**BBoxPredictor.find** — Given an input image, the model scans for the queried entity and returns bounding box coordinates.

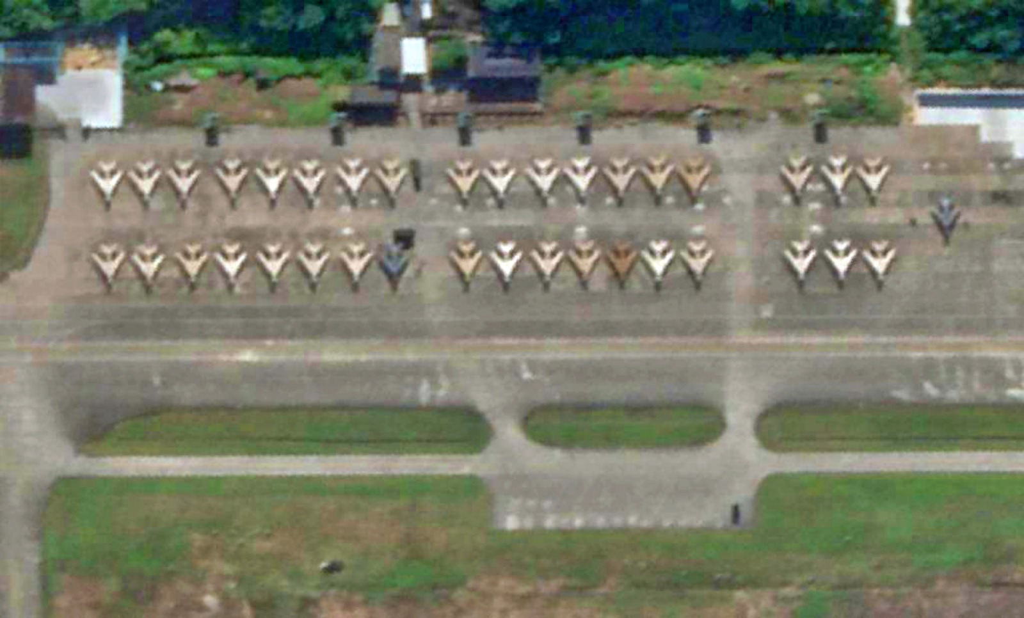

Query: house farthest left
[0,64,32,122]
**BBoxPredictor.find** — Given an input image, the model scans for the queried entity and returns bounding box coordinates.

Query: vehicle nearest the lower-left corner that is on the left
[320,560,344,572]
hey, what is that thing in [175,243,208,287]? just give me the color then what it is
white airplane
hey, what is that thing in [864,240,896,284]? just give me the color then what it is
white airplane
